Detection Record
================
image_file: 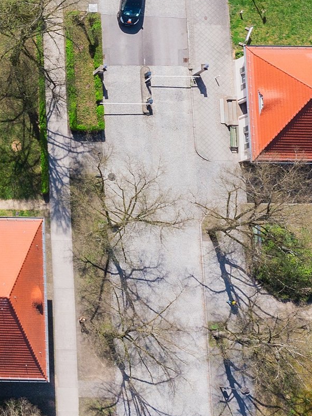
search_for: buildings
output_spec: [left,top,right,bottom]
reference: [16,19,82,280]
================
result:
[0,215,52,384]
[214,45,312,168]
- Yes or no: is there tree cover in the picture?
Yes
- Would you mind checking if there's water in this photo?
No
